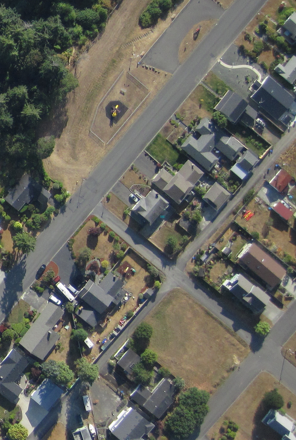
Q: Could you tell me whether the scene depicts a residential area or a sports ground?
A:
residential area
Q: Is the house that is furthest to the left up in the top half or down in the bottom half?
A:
bottom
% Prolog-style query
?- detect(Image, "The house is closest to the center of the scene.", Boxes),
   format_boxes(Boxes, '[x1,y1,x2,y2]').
[130,188,168,225]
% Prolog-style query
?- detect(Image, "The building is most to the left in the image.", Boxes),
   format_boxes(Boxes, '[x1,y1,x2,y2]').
[0,350,29,405]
